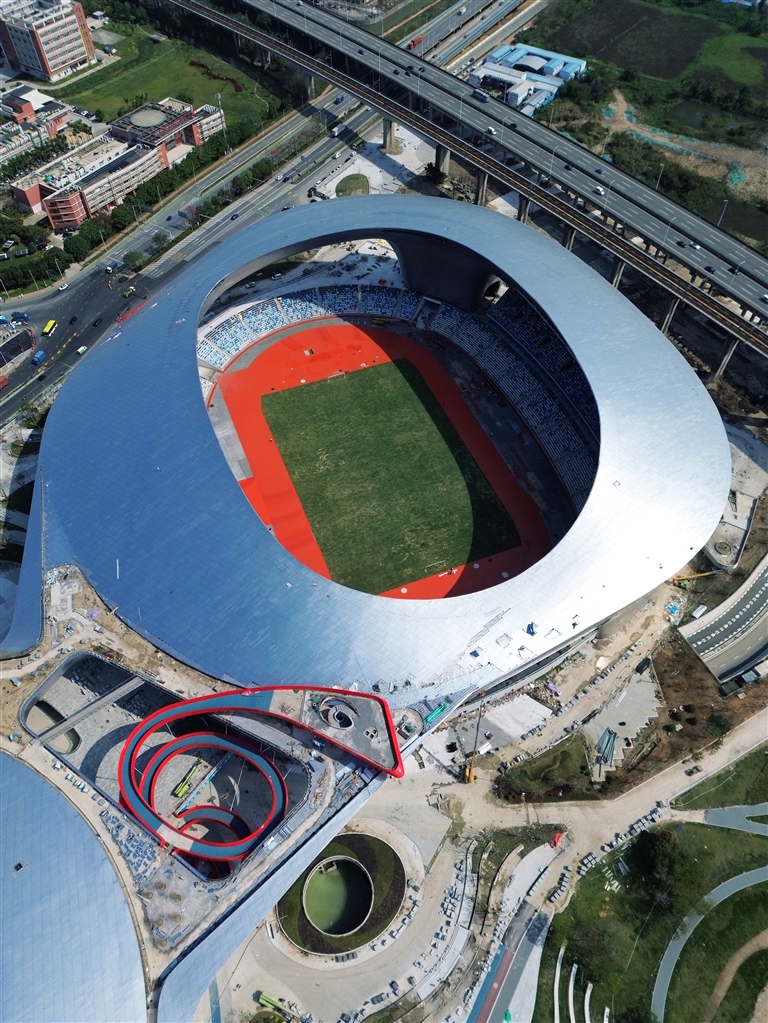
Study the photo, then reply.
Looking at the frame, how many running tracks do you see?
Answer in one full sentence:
The picture shows 1 running track.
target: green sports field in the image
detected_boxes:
[262,359,521,595]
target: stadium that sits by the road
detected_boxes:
[43,195,732,739]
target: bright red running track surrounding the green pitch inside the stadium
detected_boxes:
[215,325,552,598]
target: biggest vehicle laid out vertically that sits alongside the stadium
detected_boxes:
[463,700,482,785]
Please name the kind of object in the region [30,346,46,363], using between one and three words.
vehicle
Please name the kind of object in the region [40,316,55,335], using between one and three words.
vehicle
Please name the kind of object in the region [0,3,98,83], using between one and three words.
building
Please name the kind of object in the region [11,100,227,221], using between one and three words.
building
